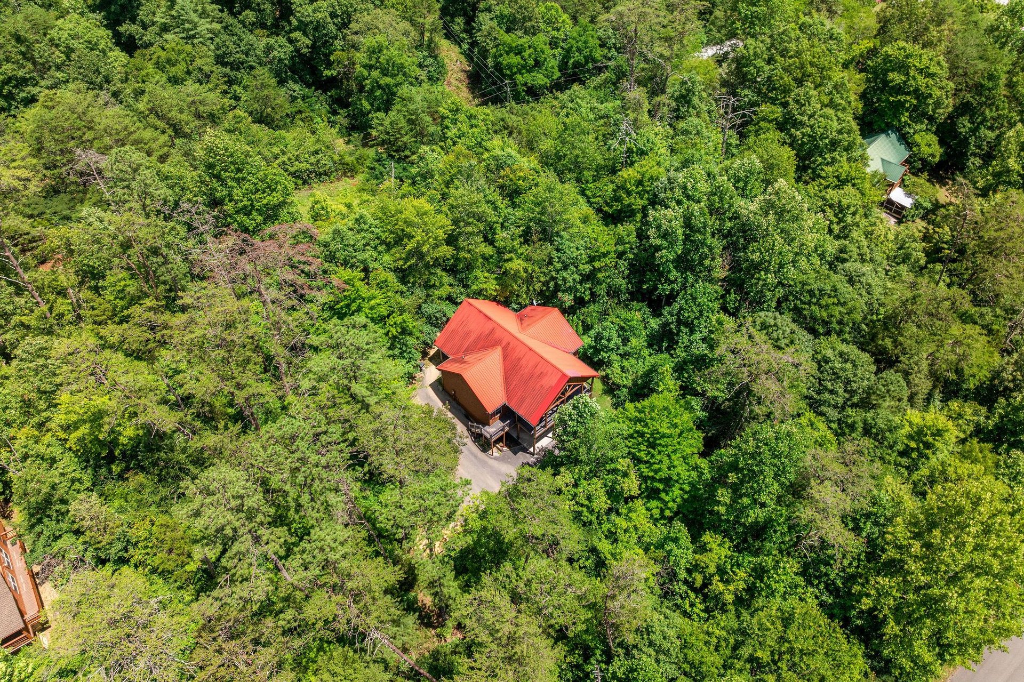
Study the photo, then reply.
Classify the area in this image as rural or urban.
rural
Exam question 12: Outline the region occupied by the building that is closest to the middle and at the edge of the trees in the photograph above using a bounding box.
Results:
[433,298,600,455]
